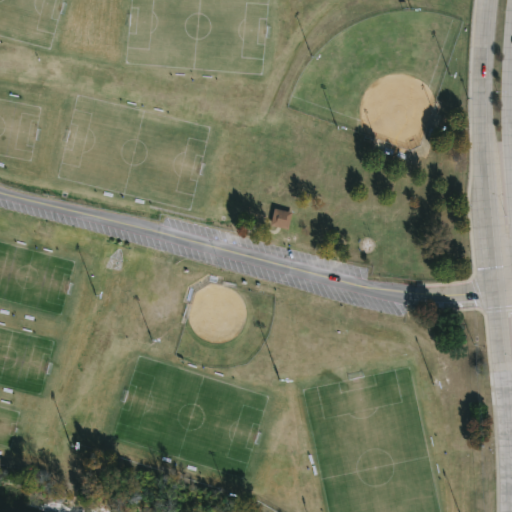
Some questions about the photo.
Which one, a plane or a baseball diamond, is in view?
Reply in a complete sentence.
The one in the frame is a baseball diamond.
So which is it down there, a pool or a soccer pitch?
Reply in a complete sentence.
Of the two, only a soccer pitch appears.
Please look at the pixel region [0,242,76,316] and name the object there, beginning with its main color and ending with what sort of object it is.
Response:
green soccer field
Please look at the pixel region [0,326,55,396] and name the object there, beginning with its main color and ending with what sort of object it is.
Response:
green soccer field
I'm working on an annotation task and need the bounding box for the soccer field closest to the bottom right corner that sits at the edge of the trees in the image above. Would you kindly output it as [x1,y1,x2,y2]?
[302,366,442,512]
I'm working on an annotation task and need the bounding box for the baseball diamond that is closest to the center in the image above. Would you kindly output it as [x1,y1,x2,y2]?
[184,275,248,344]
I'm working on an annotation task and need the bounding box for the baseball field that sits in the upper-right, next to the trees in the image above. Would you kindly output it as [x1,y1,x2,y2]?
[312,24,452,150]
